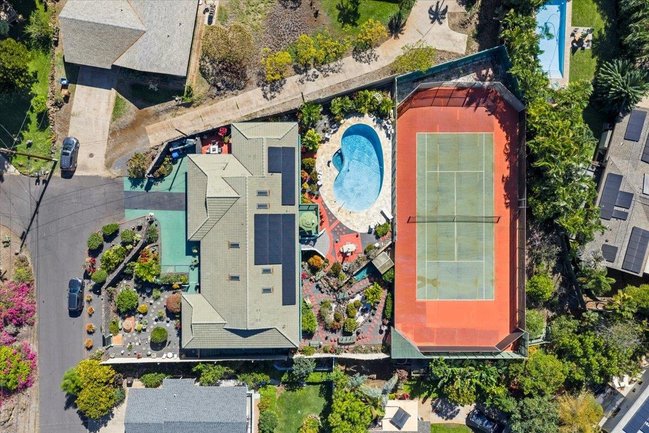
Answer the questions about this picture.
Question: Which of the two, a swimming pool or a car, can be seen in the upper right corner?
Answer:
swimming pool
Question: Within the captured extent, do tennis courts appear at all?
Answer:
Yes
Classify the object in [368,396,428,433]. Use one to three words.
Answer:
shed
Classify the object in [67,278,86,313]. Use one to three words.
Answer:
car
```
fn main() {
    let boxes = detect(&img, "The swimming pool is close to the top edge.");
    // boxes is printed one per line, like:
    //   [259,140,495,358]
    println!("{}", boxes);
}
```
[535,0,566,77]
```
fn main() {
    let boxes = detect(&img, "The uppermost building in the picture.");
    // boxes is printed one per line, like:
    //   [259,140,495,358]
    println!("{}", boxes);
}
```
[59,0,200,74]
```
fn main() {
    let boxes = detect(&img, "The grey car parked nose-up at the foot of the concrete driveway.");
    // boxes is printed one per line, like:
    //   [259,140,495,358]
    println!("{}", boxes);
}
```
[60,138,79,171]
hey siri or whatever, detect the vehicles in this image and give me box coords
[60,138,79,171]
[468,408,501,433]
[67,278,86,313]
